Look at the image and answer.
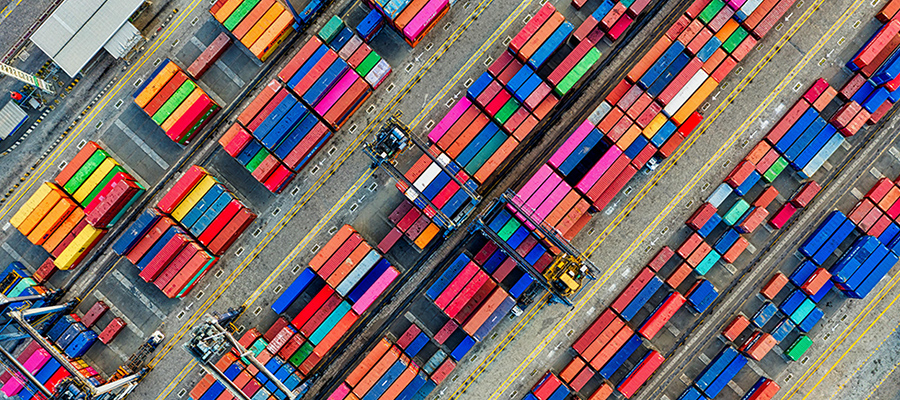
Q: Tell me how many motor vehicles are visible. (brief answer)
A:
3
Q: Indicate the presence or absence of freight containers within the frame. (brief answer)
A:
Yes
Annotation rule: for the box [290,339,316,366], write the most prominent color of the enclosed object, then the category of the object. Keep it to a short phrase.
green shipping container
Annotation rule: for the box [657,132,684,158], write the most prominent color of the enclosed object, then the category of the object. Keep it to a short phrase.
red shipping container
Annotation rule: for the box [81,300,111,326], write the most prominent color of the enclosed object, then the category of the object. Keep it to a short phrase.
red shipping container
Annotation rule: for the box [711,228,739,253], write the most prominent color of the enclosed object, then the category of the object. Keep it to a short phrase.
blue shipping container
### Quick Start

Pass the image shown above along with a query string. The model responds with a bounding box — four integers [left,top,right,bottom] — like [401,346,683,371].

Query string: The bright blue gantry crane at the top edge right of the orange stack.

[279,0,335,42]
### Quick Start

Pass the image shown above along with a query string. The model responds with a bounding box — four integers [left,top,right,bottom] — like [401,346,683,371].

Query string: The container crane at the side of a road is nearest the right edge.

[463,185,598,307]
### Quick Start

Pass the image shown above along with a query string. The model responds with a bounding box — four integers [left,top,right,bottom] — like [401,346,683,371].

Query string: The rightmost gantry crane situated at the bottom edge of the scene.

[178,297,328,400]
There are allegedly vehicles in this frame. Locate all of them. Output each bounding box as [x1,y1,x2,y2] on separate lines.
[120,330,168,379]
[642,149,663,172]
[510,264,557,317]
